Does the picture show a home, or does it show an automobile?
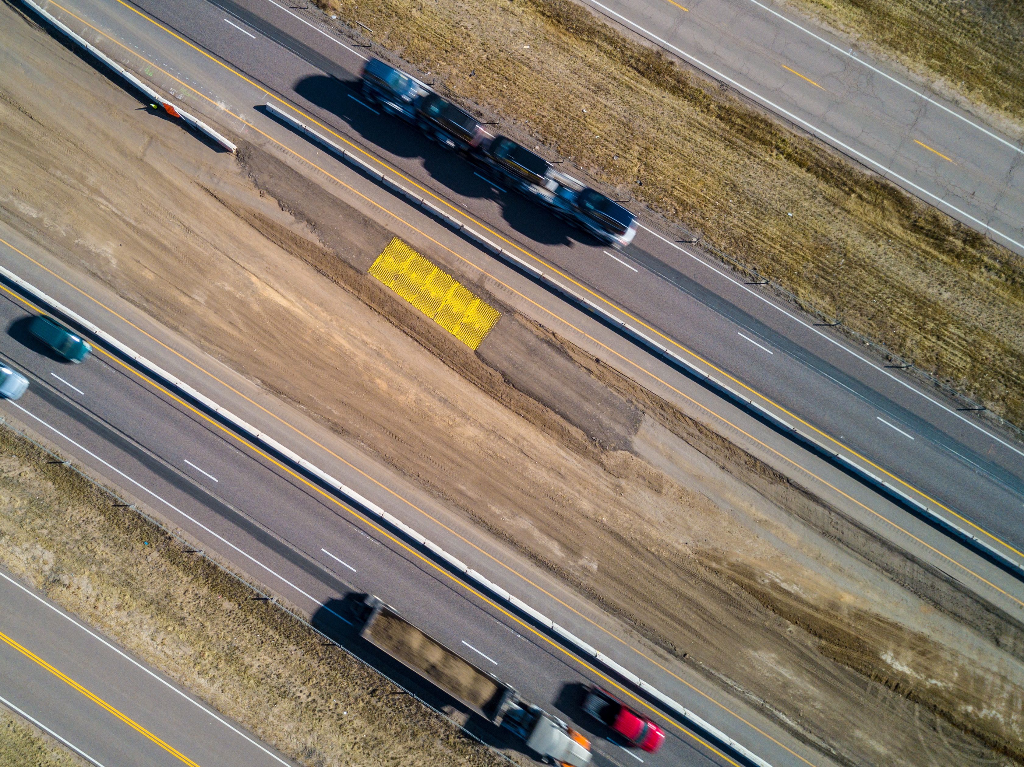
automobile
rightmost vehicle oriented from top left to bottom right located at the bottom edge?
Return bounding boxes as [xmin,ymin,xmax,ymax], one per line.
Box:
[576,681,665,753]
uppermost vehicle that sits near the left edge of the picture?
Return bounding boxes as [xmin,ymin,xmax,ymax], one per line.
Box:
[26,314,96,367]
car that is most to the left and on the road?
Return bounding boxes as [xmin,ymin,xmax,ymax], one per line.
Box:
[0,358,34,401]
